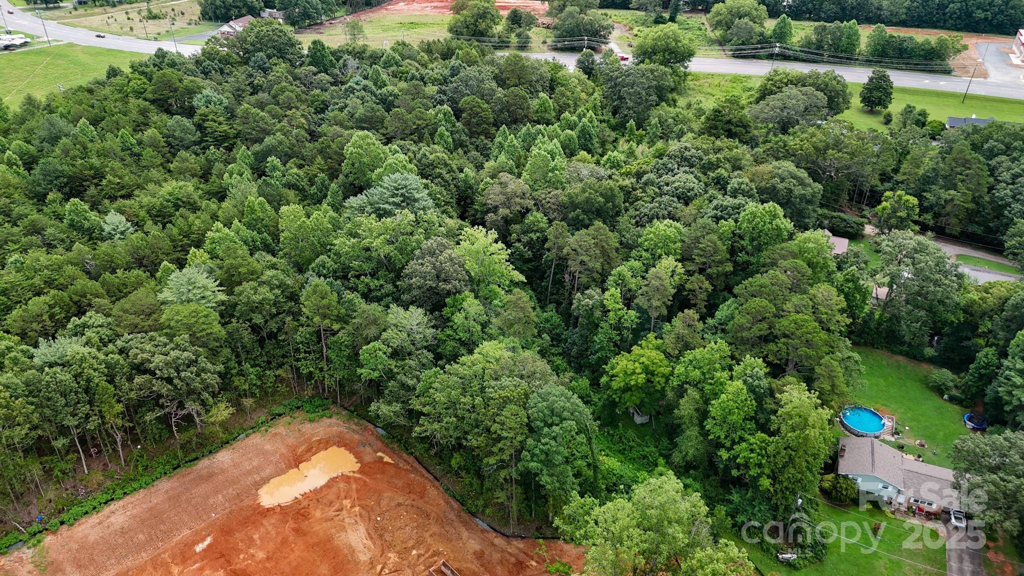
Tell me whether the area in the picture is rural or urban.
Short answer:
rural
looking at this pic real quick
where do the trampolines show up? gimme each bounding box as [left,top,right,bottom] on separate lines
[962,413,990,432]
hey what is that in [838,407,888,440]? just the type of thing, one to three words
swimming pool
